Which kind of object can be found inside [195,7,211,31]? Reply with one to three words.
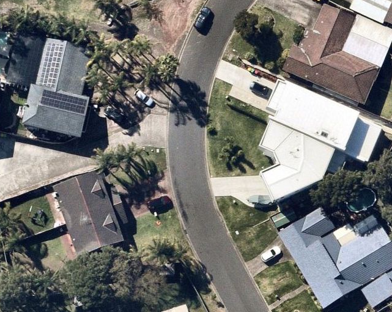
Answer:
car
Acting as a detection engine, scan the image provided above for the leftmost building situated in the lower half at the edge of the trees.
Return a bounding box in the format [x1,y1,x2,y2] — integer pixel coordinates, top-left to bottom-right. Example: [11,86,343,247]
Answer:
[53,171,128,251]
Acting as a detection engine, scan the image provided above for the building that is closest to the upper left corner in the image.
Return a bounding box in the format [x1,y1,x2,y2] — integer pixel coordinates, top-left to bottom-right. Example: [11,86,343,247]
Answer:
[18,34,92,138]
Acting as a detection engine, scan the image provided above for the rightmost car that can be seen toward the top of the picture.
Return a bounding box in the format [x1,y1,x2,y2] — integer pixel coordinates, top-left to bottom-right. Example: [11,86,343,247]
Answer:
[249,83,271,96]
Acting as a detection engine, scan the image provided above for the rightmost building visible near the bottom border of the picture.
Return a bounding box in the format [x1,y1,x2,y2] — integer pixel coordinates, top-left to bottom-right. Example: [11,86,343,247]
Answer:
[273,206,392,312]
